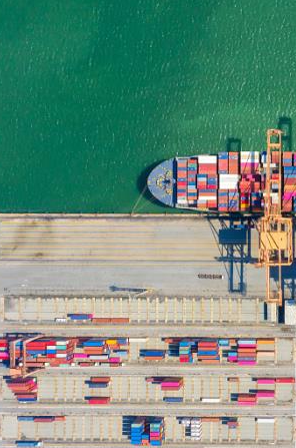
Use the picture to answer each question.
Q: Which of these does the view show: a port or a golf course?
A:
port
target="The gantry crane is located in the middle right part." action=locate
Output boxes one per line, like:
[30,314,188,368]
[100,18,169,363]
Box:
[258,129,296,306]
